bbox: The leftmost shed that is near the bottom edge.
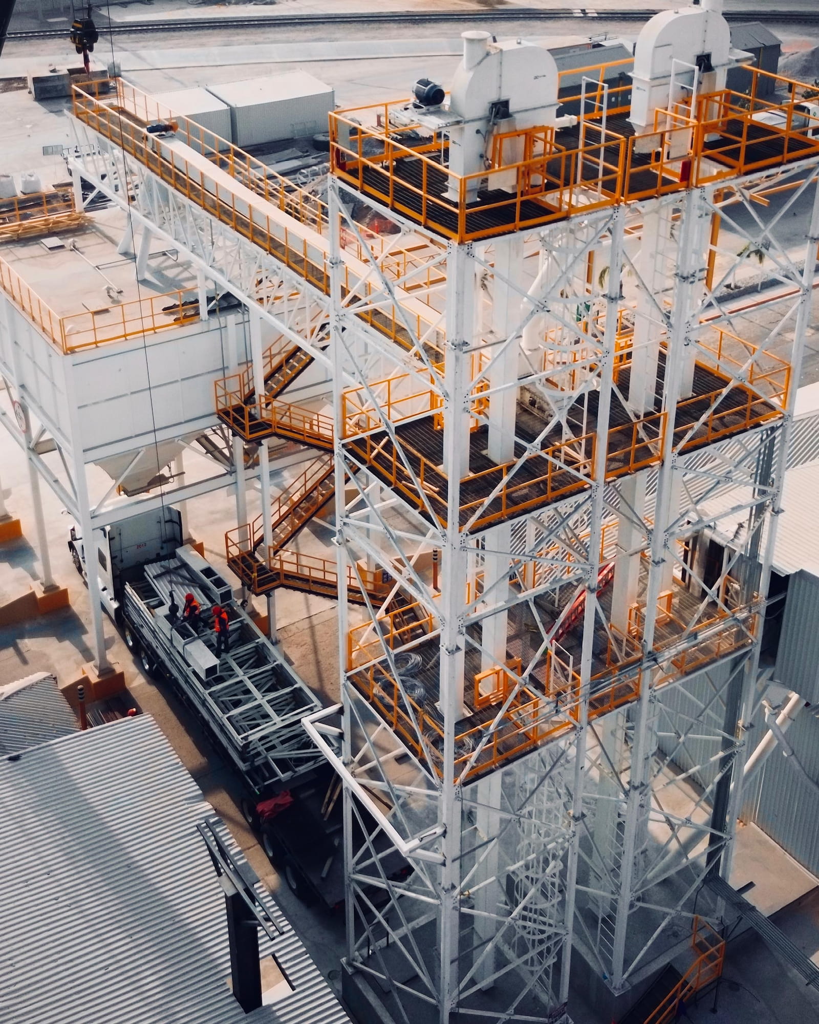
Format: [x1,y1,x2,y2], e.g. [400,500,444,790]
[0,708,350,1024]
